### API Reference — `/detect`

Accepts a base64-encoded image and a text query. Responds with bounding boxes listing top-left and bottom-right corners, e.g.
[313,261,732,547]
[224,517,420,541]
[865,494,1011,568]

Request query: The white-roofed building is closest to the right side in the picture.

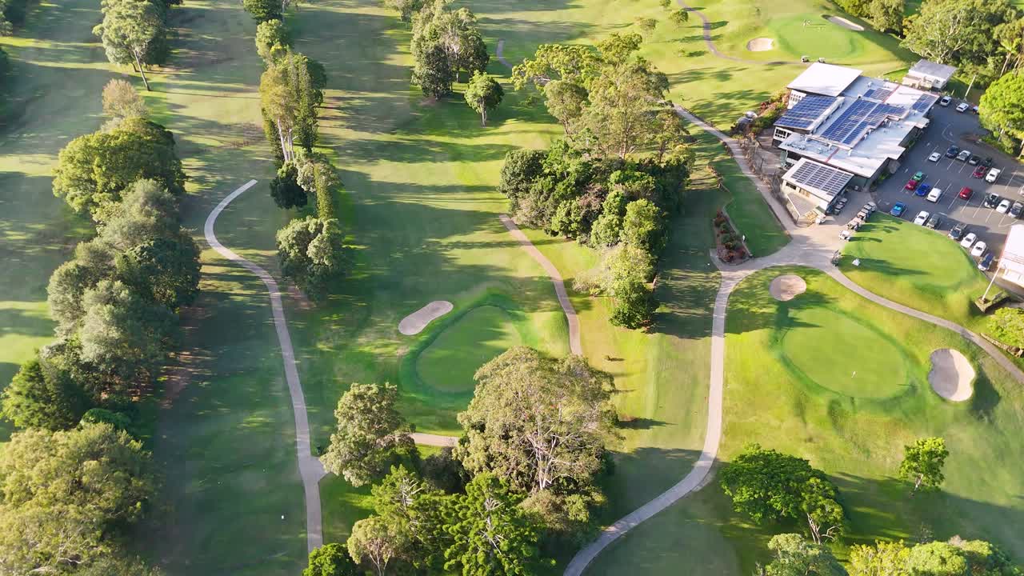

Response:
[991,225,1024,293]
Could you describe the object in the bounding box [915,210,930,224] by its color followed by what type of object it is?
white car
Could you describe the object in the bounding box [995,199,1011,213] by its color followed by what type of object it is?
white car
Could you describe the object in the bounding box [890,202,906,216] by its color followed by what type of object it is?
blue car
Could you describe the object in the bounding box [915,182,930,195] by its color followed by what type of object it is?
blue vehicle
